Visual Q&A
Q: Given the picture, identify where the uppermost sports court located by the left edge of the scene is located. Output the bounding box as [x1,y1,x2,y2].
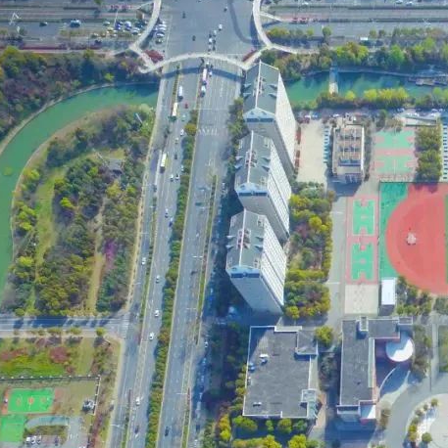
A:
[3,388,59,413]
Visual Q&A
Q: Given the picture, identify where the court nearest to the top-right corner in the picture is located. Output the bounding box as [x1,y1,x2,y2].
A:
[373,126,416,152]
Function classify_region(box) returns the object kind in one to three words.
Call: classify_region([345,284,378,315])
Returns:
sports court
